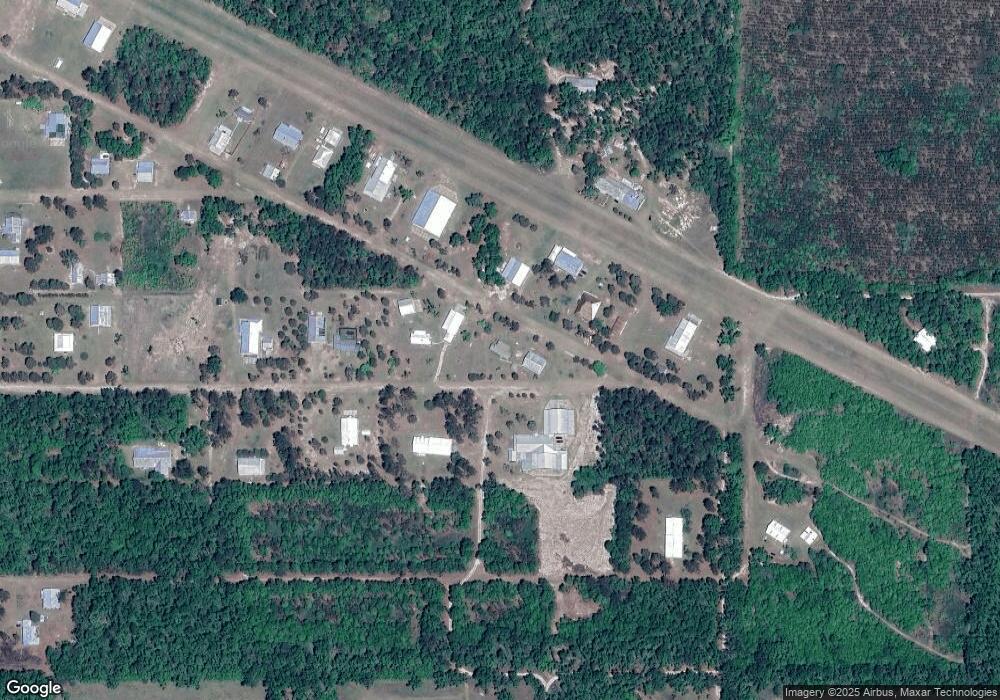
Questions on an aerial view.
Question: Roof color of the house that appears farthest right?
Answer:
white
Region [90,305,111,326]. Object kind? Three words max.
house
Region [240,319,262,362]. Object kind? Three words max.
hangar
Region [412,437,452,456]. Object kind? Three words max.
house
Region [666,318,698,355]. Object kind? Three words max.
hangar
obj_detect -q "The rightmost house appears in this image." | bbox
[913,328,938,351]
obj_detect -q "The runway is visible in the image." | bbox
[122,0,1000,448]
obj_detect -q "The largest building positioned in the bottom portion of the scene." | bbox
[509,436,567,470]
